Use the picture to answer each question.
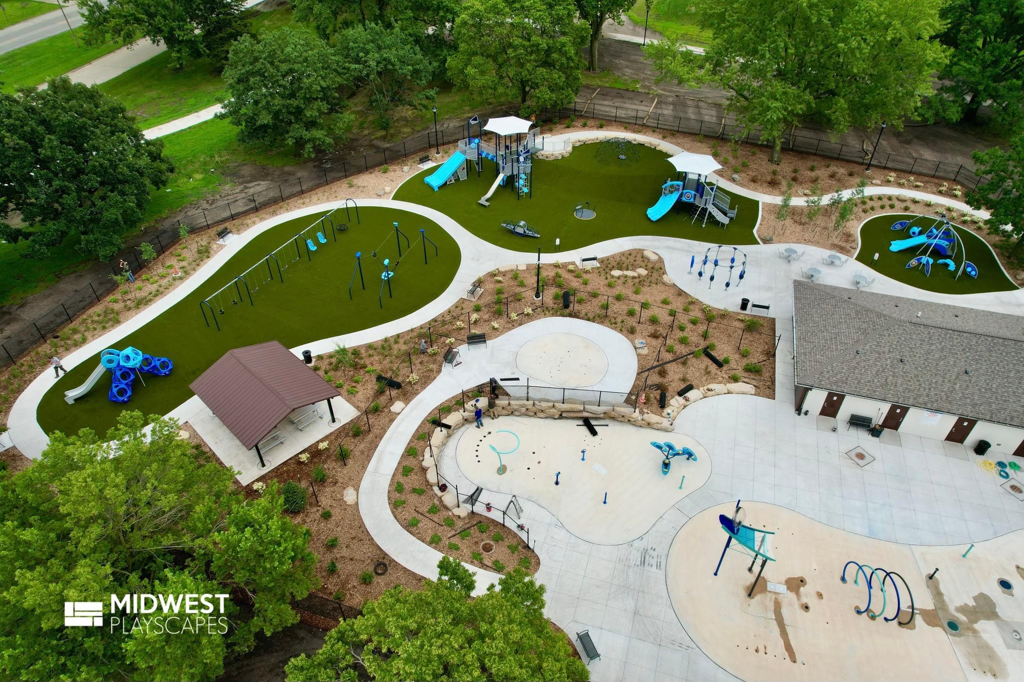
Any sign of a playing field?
No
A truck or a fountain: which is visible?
fountain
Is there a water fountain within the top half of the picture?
No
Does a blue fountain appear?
Yes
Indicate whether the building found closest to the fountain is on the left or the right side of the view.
right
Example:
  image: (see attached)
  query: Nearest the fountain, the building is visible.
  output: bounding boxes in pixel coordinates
[793,280,1024,455]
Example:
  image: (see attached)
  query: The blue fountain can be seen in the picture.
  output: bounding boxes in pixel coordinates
[645,441,701,477]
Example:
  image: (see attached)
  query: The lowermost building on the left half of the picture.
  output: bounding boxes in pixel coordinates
[188,343,348,469]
